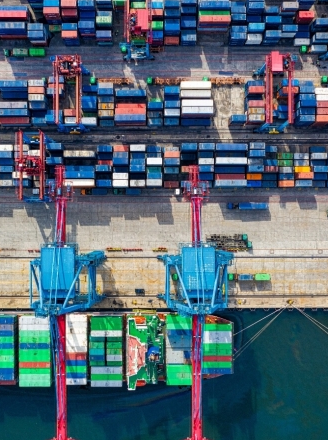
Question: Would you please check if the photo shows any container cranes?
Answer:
Yes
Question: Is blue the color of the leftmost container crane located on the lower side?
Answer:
Yes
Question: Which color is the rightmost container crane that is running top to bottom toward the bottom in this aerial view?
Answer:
blue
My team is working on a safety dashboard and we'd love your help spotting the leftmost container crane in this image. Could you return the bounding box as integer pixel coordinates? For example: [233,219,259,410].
[16,131,60,203]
